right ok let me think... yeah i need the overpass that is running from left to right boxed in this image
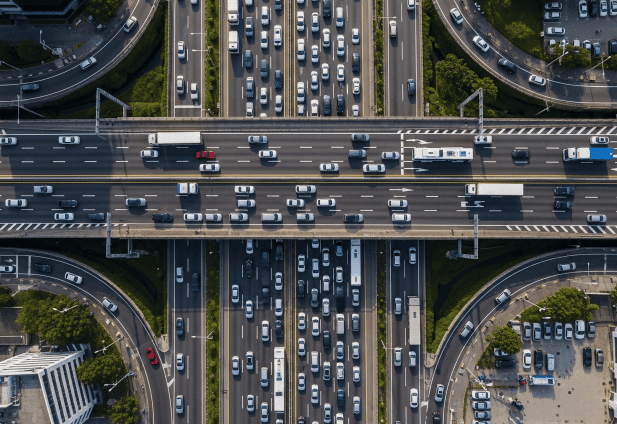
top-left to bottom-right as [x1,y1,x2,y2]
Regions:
[0,117,617,240]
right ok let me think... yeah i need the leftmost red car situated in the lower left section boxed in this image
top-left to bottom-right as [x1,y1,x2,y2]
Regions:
[146,347,159,364]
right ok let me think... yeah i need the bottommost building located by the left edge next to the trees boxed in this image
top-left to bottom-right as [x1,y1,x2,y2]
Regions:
[0,350,96,424]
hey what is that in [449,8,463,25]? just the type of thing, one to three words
vehicle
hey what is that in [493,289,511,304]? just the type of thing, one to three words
car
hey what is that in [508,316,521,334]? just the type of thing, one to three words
vehicle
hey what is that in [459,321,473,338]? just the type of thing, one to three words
car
